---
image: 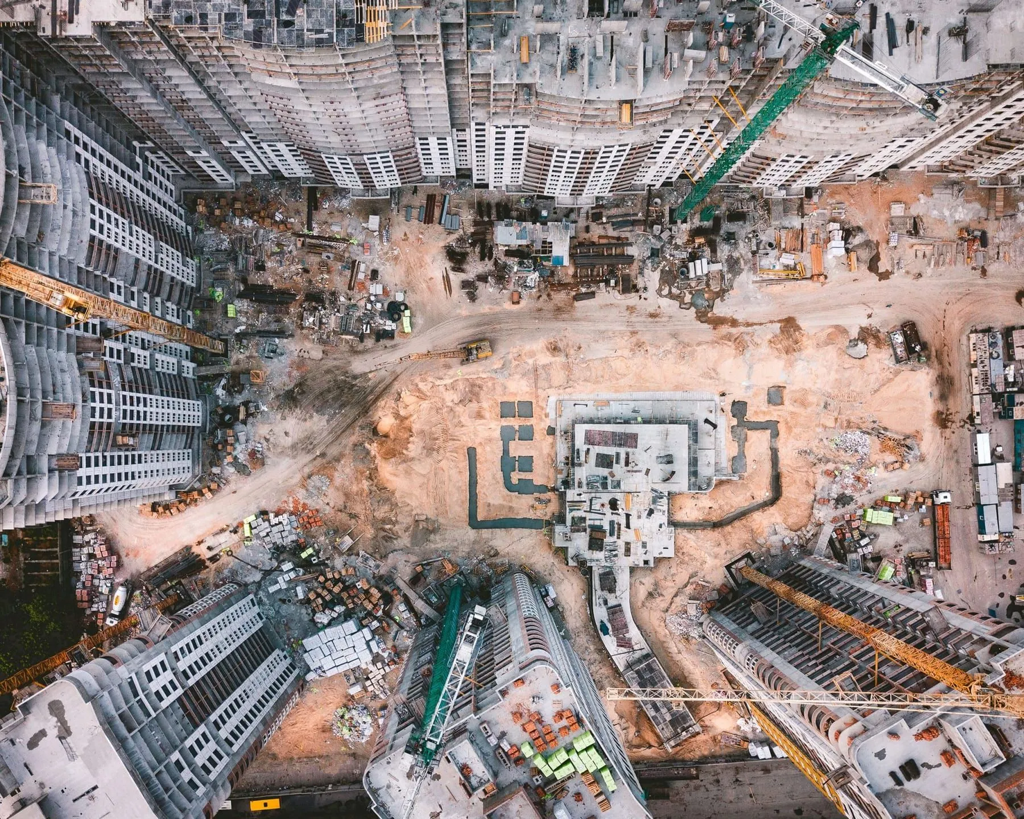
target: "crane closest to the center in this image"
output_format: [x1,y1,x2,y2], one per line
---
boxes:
[381,341,490,380]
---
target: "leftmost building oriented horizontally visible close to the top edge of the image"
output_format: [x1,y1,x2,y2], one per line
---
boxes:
[0,0,472,201]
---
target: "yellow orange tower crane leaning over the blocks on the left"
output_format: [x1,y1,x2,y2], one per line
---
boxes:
[0,250,233,355]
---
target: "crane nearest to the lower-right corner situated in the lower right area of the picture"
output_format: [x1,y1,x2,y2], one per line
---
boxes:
[608,554,1024,718]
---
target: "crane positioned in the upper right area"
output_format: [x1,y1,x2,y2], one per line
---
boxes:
[669,0,950,233]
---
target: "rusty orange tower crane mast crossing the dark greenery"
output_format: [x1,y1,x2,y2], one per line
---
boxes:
[0,578,198,696]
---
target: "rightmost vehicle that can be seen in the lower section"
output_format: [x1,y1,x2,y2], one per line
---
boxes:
[938,488,959,580]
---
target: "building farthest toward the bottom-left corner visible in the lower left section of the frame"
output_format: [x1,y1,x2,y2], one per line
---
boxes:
[0,579,306,819]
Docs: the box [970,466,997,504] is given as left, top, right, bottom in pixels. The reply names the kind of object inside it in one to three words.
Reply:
building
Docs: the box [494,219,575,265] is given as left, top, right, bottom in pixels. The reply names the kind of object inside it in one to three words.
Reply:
shed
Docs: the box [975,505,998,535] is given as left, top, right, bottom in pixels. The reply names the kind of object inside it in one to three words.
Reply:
building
